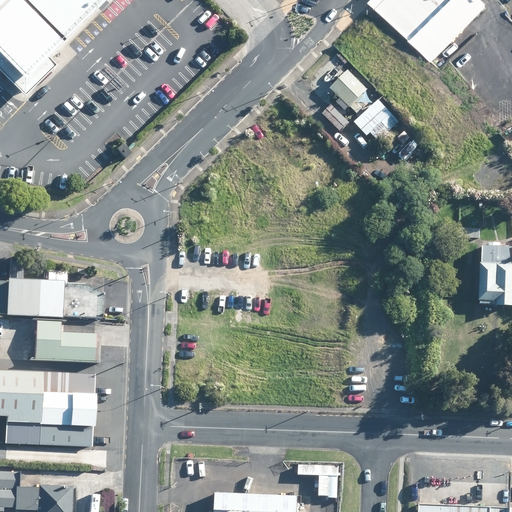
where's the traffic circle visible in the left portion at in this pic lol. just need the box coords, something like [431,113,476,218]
[109,208,145,244]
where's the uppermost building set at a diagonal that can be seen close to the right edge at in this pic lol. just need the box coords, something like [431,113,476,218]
[407,0,490,62]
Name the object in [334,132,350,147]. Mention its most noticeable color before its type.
white car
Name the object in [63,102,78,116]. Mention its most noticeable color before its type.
white car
